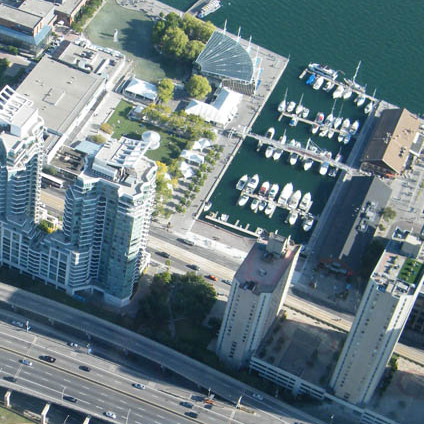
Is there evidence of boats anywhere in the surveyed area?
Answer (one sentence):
Yes, looking at the shot, I can spot a boat.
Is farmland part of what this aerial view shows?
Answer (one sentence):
No, there is no farmland in the image.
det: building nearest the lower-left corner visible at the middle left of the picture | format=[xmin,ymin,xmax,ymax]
[0,210,96,294]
